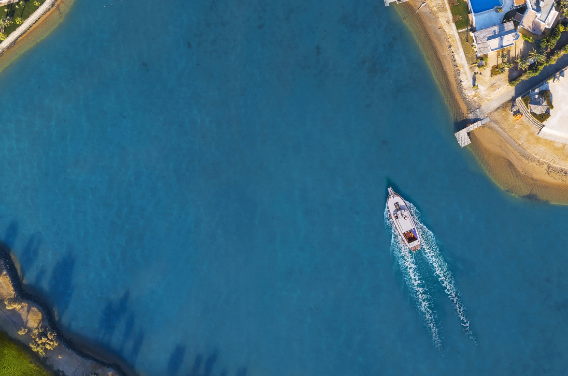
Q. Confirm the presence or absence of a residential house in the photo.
Yes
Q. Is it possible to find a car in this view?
No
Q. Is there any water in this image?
Yes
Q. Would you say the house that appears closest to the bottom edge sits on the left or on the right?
right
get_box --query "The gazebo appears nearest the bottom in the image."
[526,96,549,115]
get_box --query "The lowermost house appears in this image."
[473,21,520,56]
